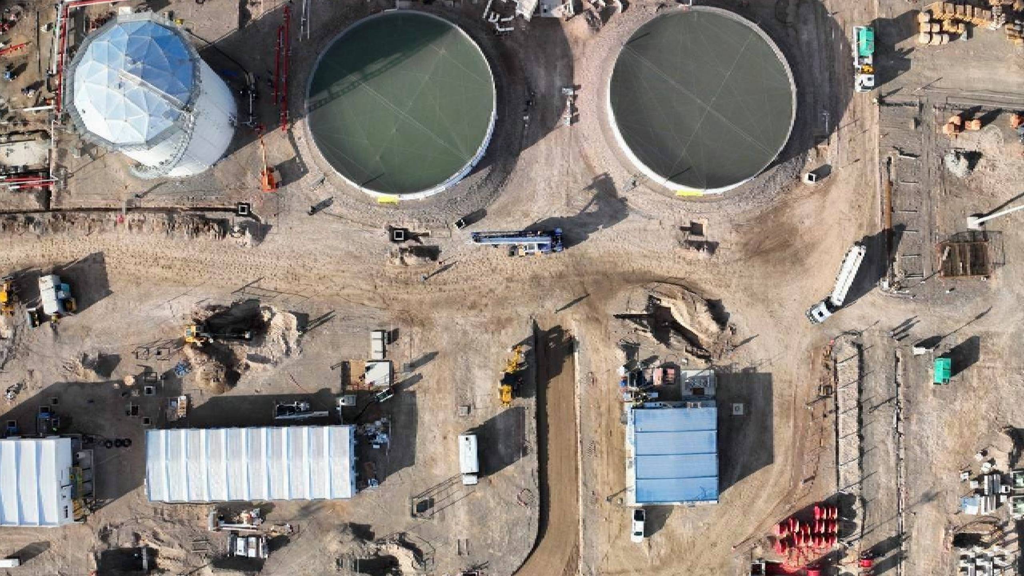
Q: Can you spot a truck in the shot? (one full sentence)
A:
Yes, a truck can be made out from above.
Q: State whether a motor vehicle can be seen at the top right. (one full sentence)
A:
Yes, a motor vehicle is visible at the top right.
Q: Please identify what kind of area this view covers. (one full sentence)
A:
The picture captures an industrial area.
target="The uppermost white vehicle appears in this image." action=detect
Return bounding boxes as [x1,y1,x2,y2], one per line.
[853,23,877,96]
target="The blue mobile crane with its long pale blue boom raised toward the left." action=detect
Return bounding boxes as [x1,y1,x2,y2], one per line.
[470,223,564,262]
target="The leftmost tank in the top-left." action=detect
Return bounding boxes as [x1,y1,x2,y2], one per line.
[59,11,239,173]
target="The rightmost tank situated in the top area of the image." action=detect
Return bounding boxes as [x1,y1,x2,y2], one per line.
[602,0,798,204]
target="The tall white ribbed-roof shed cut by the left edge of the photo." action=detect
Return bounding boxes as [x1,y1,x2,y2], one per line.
[0,433,75,528]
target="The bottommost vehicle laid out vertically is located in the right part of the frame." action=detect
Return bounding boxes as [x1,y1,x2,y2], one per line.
[632,509,646,542]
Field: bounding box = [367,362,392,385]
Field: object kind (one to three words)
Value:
building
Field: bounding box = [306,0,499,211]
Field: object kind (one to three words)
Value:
storage tank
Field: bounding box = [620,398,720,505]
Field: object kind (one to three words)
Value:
shed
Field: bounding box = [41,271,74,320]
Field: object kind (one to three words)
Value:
truck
